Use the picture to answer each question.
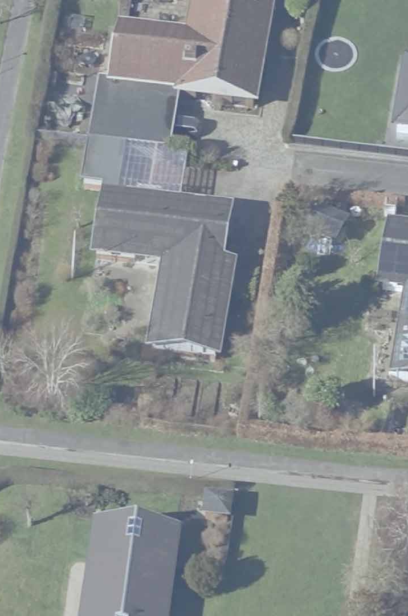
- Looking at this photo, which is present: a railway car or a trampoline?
trampoline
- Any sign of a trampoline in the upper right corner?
Yes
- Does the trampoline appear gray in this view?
Yes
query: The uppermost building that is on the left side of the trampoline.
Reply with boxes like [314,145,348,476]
[107,0,278,108]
